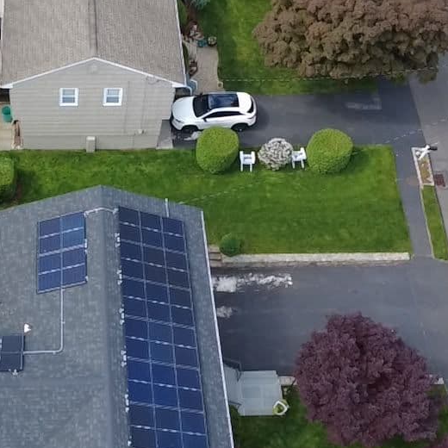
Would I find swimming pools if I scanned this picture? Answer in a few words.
No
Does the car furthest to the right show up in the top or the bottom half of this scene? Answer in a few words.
top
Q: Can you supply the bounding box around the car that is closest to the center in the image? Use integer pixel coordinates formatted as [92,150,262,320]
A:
[172,93,260,136]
